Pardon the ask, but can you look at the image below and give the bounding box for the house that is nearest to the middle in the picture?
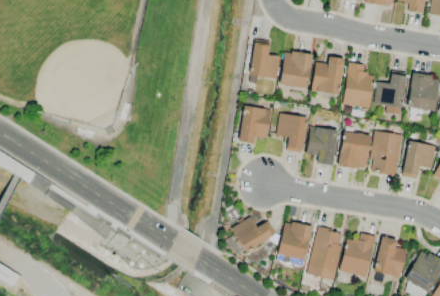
[240,106,271,142]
